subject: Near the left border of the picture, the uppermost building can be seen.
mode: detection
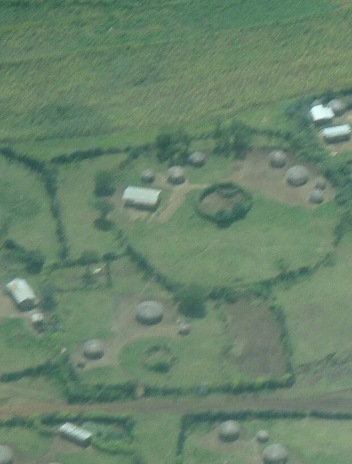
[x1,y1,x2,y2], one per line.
[5,278,36,311]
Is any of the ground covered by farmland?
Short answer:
Yes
